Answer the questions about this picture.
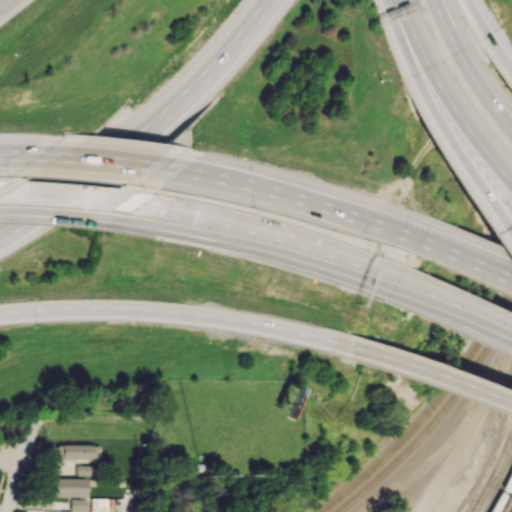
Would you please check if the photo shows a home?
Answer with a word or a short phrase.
Yes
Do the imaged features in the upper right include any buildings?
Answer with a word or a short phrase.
No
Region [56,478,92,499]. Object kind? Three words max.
house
